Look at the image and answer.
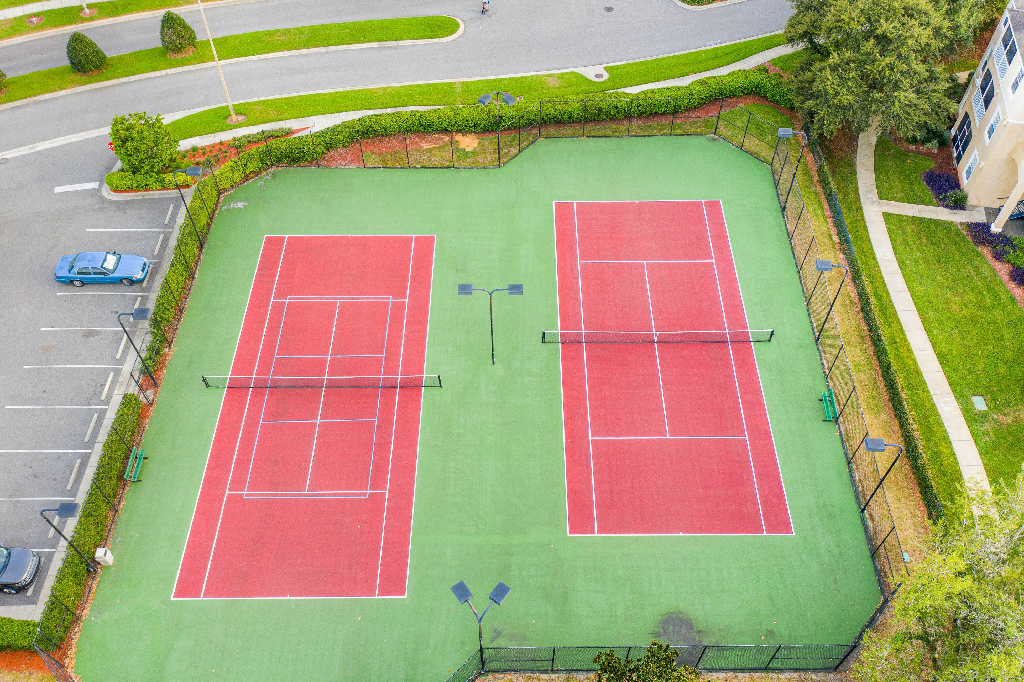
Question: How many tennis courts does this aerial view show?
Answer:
2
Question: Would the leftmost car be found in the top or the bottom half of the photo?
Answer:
bottom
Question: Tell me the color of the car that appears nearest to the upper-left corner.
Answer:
blue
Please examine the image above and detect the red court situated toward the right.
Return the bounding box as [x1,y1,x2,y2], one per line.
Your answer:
[554,199,794,536]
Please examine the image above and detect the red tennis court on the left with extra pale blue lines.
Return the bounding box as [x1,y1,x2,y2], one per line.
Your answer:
[172,235,436,598]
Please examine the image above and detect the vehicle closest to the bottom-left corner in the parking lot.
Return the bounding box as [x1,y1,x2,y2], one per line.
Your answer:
[0,542,40,596]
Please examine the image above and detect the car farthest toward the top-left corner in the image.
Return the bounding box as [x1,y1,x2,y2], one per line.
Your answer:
[52,249,150,287]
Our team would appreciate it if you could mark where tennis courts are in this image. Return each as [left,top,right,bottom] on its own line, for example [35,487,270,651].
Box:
[554,199,794,536]
[172,235,436,598]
